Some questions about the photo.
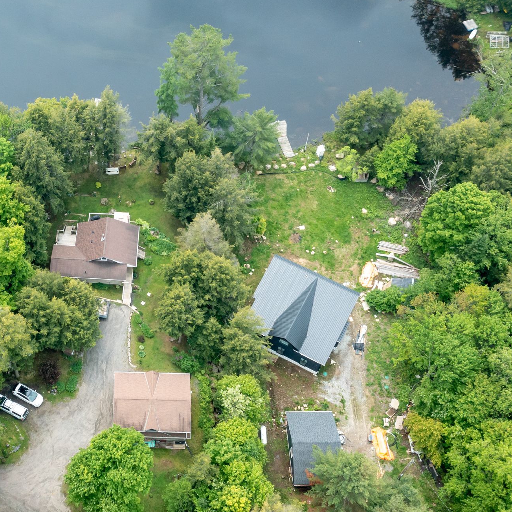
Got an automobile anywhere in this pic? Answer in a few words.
Yes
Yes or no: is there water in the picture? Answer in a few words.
Yes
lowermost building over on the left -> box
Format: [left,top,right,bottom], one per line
[113,371,191,451]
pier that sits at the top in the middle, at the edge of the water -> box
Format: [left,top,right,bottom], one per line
[275,120,295,159]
